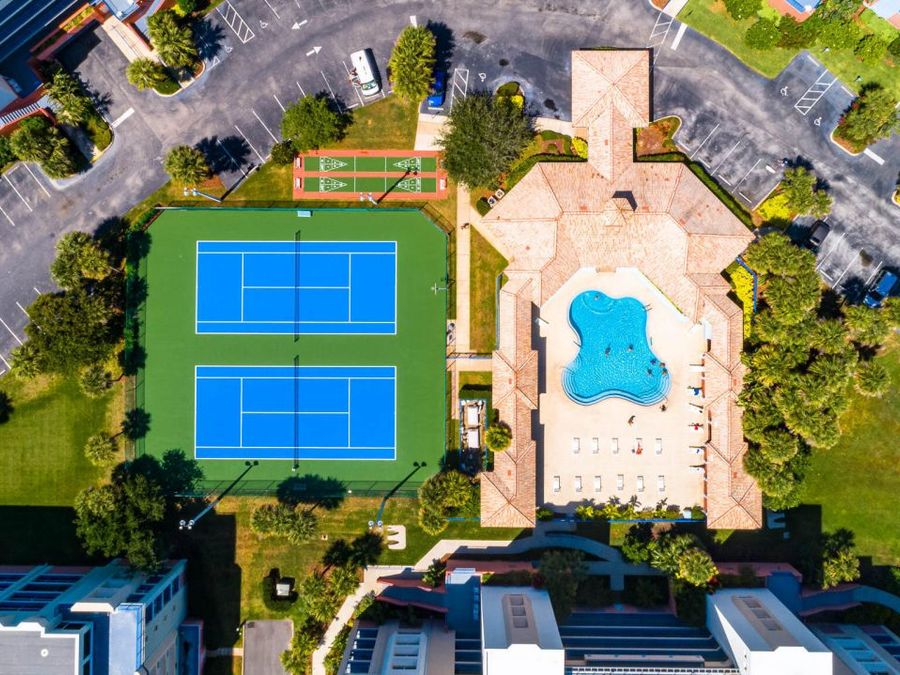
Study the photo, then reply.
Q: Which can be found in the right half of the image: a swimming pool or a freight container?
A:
swimming pool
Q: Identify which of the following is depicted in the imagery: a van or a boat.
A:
van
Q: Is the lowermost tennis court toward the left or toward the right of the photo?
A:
left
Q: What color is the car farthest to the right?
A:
blue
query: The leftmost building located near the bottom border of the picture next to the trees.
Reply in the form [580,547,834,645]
[0,559,204,675]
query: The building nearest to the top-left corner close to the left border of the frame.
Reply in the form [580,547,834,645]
[0,0,149,117]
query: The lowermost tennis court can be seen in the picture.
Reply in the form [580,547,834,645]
[135,349,447,489]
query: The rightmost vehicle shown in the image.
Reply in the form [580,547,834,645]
[864,267,900,307]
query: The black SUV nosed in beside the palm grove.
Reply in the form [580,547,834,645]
[805,215,840,253]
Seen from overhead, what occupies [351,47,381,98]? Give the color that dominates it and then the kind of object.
white van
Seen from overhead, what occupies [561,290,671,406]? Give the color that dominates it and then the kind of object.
blue swimming pool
